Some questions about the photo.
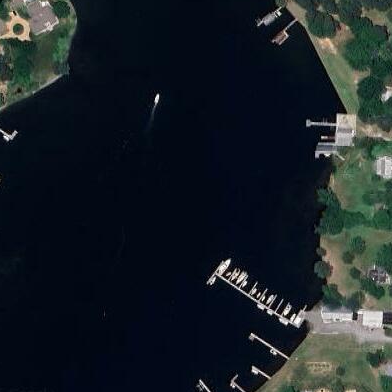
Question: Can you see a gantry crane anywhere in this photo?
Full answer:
No, there appears to be no gantry crane in this shot.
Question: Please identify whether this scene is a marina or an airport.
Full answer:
What you see here is a marina.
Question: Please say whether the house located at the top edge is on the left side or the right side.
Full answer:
The house located at the top edge appears in the left half of the scene.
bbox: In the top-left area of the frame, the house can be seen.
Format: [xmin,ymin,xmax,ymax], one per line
[27,0,58,34]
